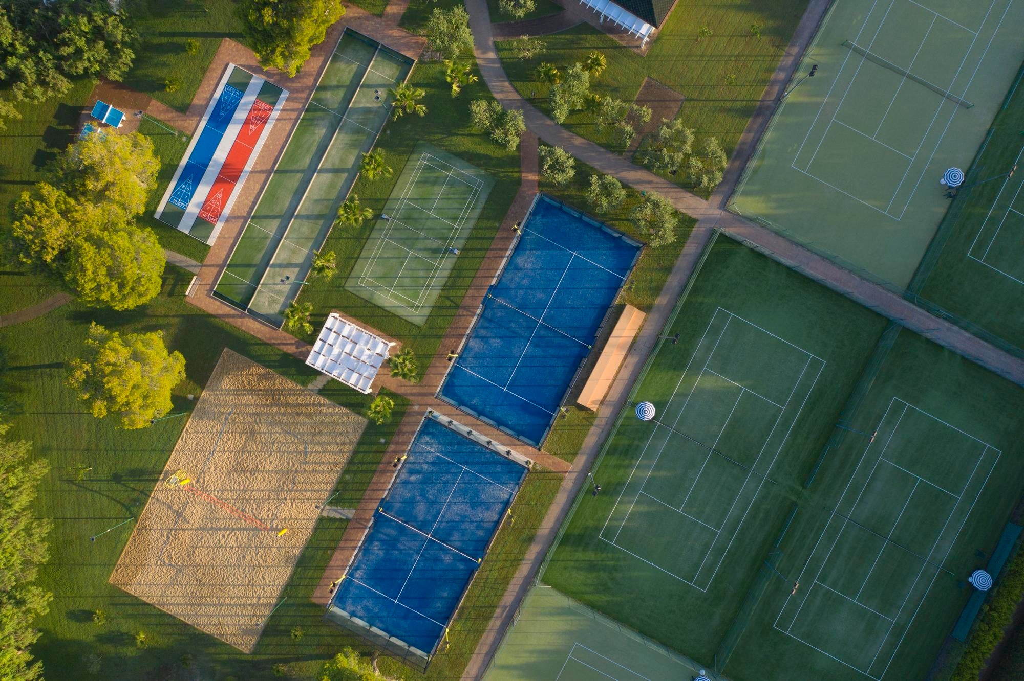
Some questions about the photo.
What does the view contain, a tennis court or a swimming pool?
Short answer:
tennis court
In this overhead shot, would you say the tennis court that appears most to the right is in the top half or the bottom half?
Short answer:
top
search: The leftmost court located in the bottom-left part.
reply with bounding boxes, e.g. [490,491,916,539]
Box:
[108,348,368,655]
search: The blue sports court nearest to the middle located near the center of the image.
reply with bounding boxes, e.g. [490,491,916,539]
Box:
[436,189,648,452]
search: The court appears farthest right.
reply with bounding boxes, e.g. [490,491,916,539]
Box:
[907,80,1024,354]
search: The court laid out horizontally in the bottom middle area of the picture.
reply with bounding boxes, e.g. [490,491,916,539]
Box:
[484,585,731,681]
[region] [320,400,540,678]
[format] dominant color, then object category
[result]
blue sports court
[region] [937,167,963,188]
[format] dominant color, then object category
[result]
blue umbrella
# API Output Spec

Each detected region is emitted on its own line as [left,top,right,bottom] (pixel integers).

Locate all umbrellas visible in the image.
[693,669,712,681]
[962,569,989,590]
[937,167,963,188]
[635,401,655,421]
